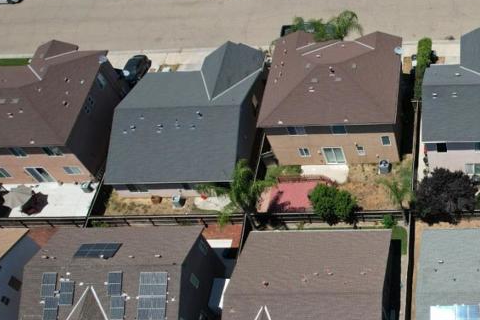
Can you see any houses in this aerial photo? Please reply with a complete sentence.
Yes, a house appears in the view.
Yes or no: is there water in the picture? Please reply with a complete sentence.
No, there's no water in this view.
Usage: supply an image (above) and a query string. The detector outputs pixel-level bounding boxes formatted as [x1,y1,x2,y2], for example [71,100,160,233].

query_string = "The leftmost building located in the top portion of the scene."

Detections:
[0,36,128,179]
